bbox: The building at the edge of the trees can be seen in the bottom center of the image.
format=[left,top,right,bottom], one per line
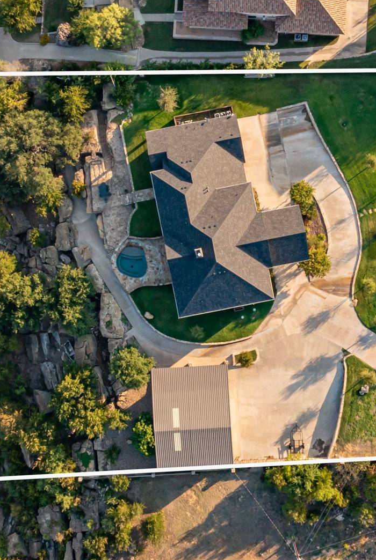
[150,356,235,477]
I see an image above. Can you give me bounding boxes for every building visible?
[150,356,235,477]
[182,0,349,39]
[145,115,310,318]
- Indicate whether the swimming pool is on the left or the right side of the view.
left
